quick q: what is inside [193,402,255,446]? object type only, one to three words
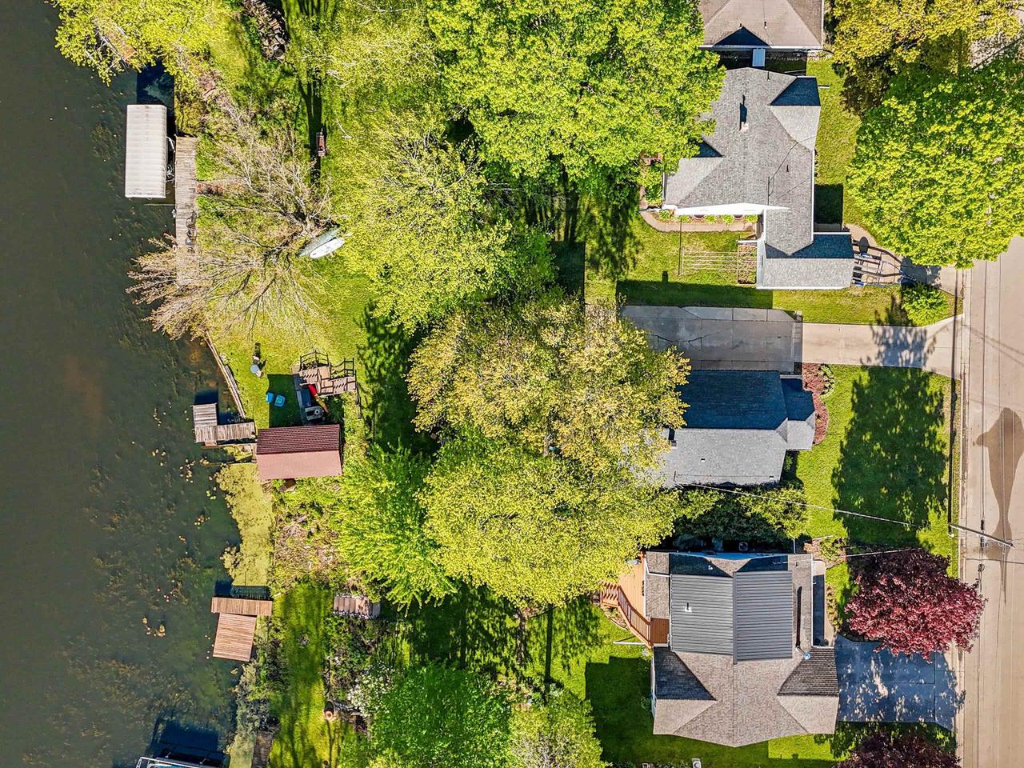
pier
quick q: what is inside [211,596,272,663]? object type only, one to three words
pier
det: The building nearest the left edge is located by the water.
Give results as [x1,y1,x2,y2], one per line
[257,425,342,479]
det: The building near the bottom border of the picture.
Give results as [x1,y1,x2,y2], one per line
[614,551,841,747]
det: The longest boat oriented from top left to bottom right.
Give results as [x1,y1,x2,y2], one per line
[308,384,328,414]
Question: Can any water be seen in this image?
Yes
